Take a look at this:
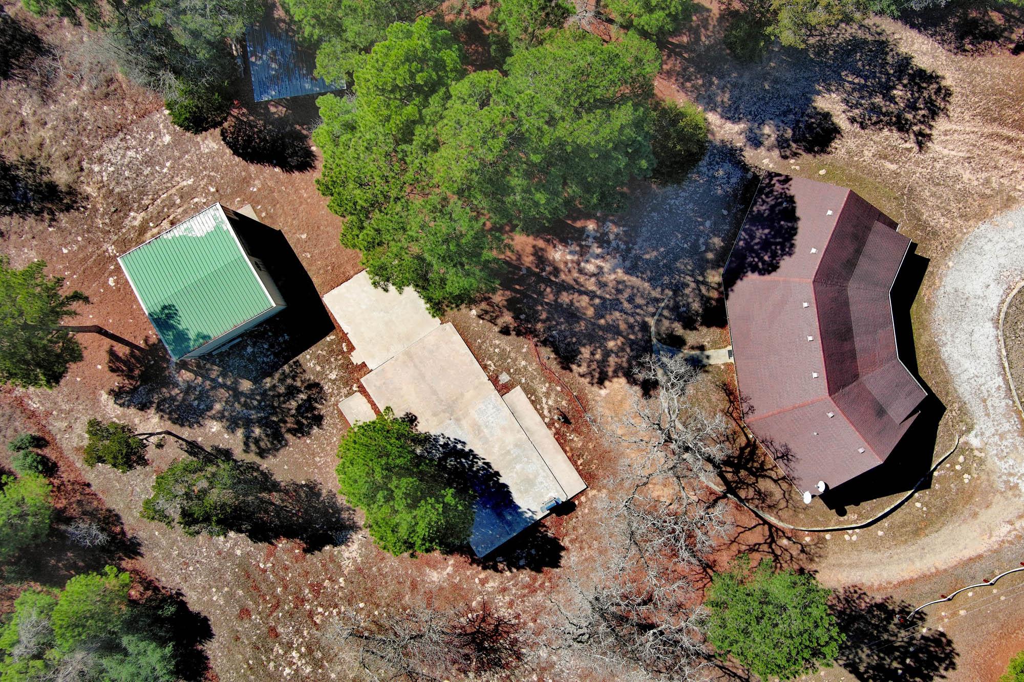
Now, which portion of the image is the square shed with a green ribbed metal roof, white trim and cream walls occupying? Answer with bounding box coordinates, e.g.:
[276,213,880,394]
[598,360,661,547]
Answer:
[117,202,287,360]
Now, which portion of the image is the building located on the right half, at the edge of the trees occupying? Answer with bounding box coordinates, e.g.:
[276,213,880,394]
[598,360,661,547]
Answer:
[721,170,928,499]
